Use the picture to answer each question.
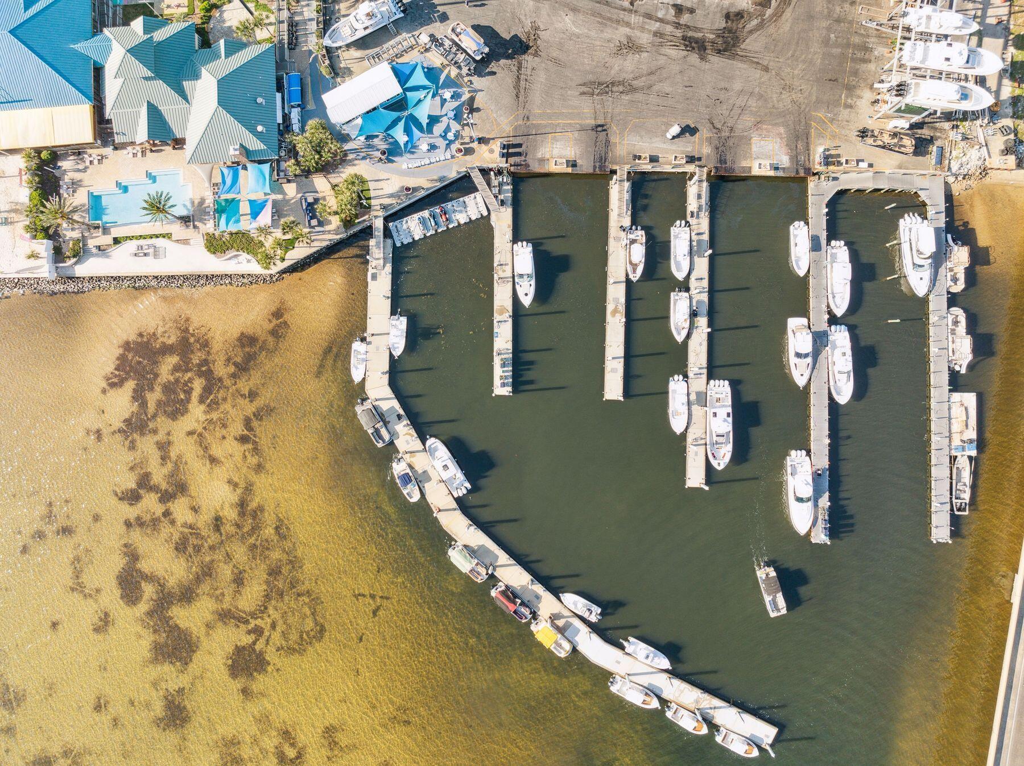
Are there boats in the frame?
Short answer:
Yes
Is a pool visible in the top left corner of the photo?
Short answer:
Yes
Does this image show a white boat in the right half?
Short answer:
Yes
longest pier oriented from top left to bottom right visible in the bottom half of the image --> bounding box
[365,239,777,749]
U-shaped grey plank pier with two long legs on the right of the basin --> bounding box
[803,168,954,546]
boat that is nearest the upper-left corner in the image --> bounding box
[321,0,406,50]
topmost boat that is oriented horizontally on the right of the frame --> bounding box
[894,8,985,41]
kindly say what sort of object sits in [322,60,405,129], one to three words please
shed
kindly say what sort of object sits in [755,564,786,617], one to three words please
boat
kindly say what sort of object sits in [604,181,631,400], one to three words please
pier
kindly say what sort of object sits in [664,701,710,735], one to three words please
boat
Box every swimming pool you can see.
[84,165,195,228]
